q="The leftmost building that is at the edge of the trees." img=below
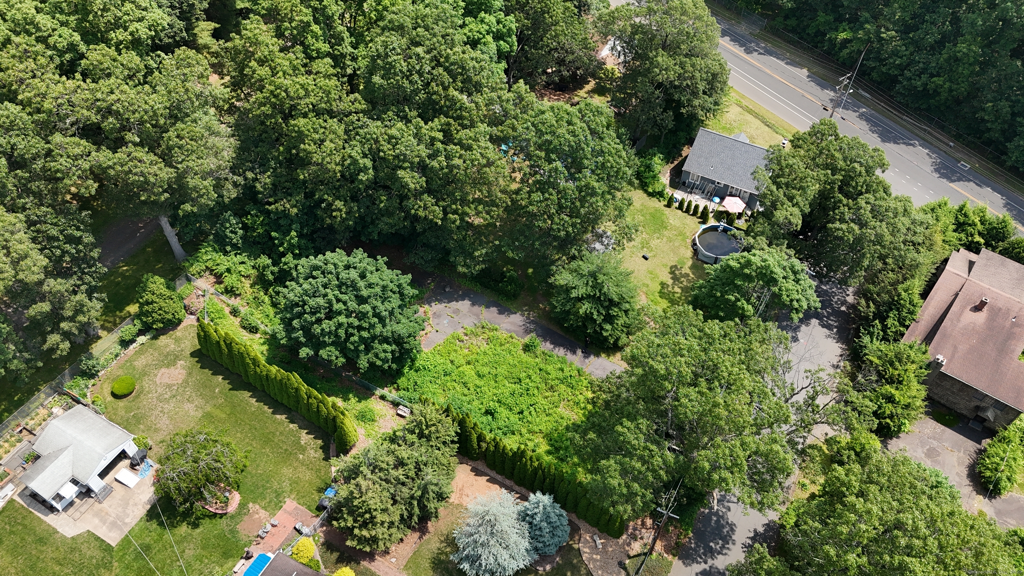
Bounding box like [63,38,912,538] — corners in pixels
[18,405,139,524]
